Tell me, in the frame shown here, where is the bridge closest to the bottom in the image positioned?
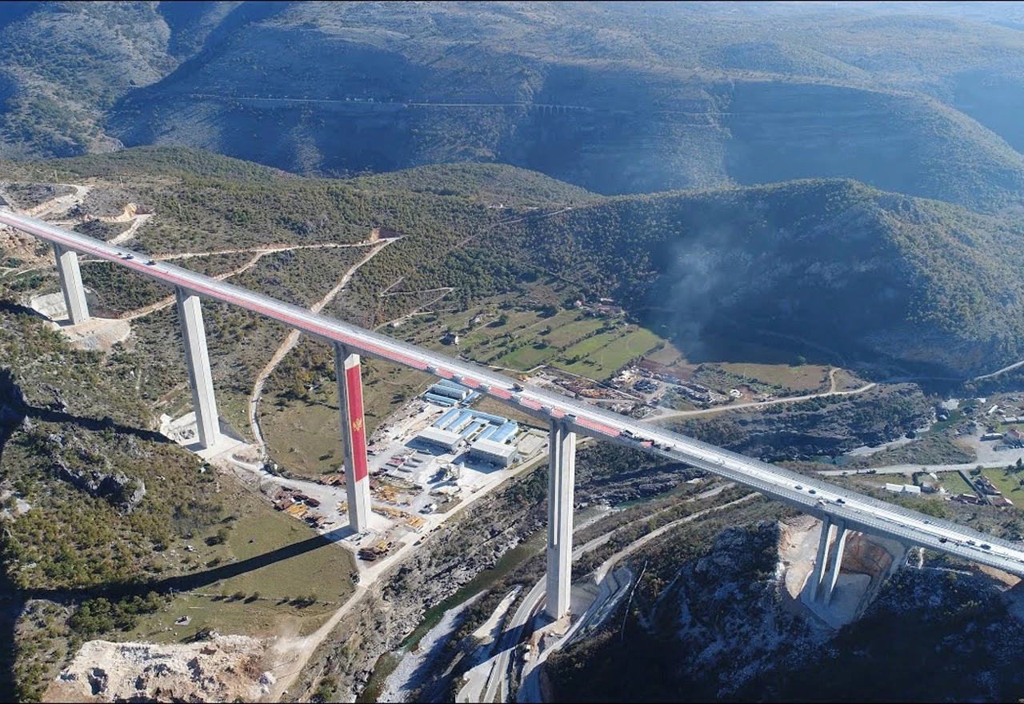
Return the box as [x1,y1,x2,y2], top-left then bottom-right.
[0,203,1024,621]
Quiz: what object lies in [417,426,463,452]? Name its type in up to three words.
shed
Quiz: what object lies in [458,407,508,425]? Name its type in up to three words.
building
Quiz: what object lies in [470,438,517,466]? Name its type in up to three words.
shed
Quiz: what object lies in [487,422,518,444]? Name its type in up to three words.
building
